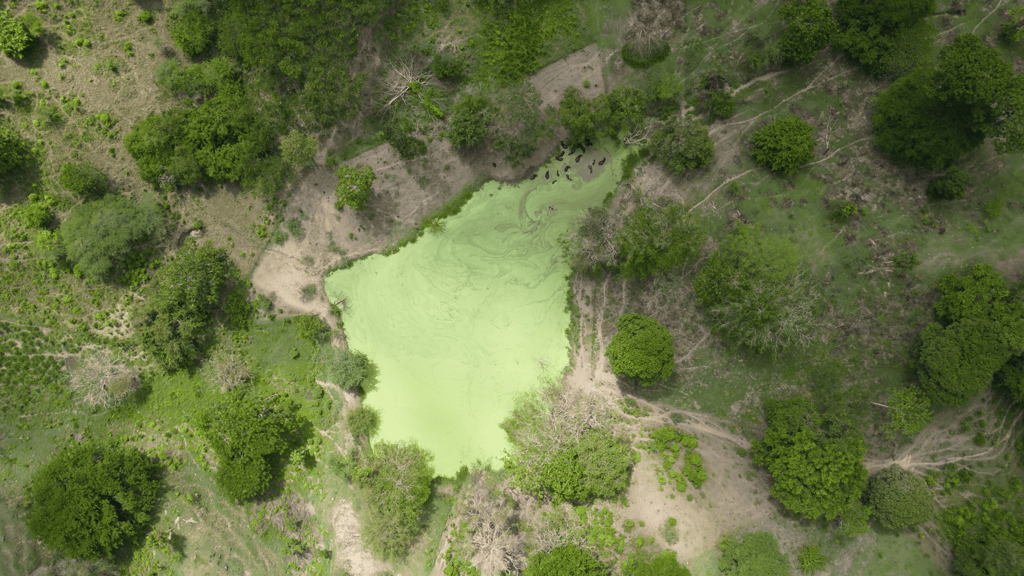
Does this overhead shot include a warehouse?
No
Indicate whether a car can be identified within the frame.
No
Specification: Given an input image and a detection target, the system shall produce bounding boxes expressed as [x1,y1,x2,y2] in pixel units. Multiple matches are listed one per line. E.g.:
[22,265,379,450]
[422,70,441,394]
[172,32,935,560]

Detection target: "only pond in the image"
[325,116,654,479]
